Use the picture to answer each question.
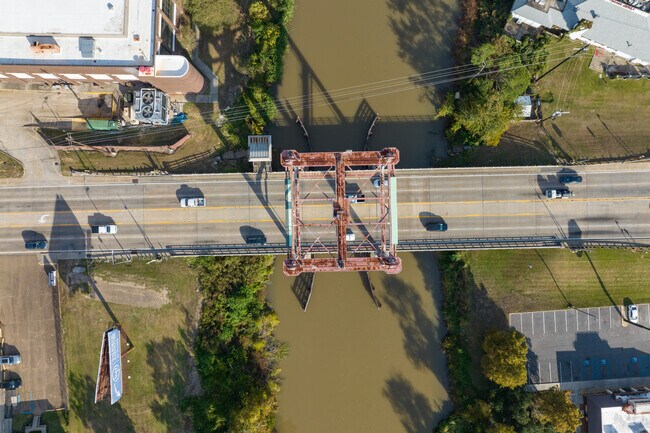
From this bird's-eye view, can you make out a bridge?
Yes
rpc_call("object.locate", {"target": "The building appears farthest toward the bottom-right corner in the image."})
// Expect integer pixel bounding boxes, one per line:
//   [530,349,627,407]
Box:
[584,379,650,433]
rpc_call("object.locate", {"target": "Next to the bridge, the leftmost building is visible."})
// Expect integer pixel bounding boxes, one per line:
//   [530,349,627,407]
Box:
[0,0,204,92]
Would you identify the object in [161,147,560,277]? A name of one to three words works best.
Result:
bridge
